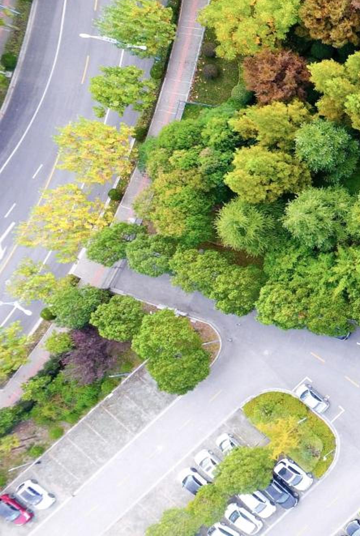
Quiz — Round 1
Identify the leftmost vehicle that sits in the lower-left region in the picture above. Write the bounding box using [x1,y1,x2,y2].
[0,494,34,525]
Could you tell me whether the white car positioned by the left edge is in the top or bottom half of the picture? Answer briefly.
bottom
